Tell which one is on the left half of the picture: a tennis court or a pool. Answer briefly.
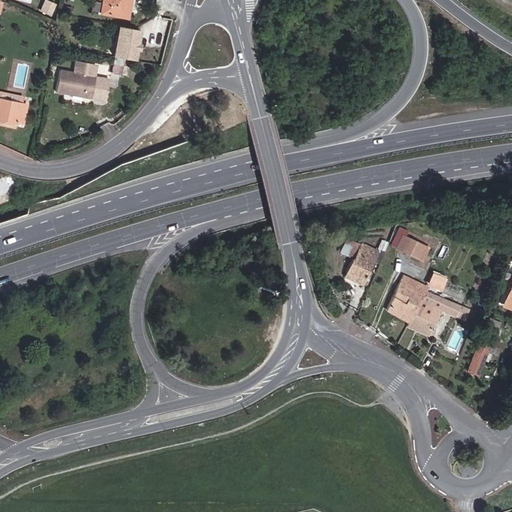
pool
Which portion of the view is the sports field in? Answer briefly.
bottom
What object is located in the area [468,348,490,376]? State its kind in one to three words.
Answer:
shed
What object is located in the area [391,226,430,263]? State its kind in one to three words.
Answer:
house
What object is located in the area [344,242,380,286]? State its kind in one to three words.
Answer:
house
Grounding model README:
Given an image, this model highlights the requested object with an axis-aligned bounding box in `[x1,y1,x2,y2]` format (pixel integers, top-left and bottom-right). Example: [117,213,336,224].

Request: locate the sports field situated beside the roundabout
[0,397,448,512]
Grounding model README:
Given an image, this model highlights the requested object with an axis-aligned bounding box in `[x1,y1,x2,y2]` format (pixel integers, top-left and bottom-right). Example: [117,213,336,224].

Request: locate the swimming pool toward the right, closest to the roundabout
[444,326,465,355]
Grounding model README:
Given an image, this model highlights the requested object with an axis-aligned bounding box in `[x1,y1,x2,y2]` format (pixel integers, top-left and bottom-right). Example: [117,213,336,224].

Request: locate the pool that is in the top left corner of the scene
[6,58,32,96]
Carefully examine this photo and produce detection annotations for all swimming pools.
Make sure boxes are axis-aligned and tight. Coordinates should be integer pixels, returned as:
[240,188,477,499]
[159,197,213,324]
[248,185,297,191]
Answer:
[6,58,32,96]
[444,326,465,355]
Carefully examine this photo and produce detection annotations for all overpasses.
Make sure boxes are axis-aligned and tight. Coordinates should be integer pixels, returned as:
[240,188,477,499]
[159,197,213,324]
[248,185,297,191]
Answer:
[248,115,302,246]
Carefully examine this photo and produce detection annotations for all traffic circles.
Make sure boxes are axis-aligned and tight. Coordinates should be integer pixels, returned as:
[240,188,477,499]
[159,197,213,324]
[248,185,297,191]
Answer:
[414,422,512,500]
